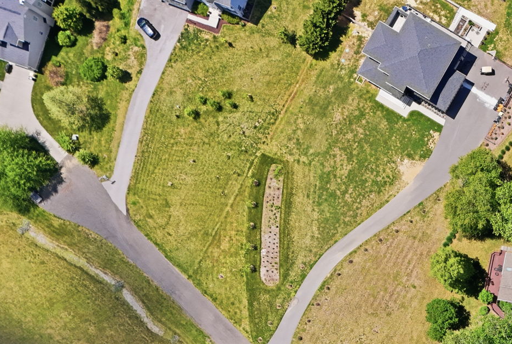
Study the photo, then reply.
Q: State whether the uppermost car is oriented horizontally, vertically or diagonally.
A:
diagonally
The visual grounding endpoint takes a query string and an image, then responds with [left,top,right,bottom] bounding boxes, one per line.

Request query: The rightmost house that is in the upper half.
[354,3,470,115]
